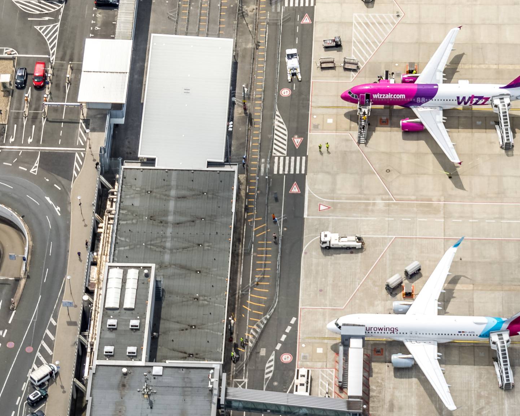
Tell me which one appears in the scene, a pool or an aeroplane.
aeroplane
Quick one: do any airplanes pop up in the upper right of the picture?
Yes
